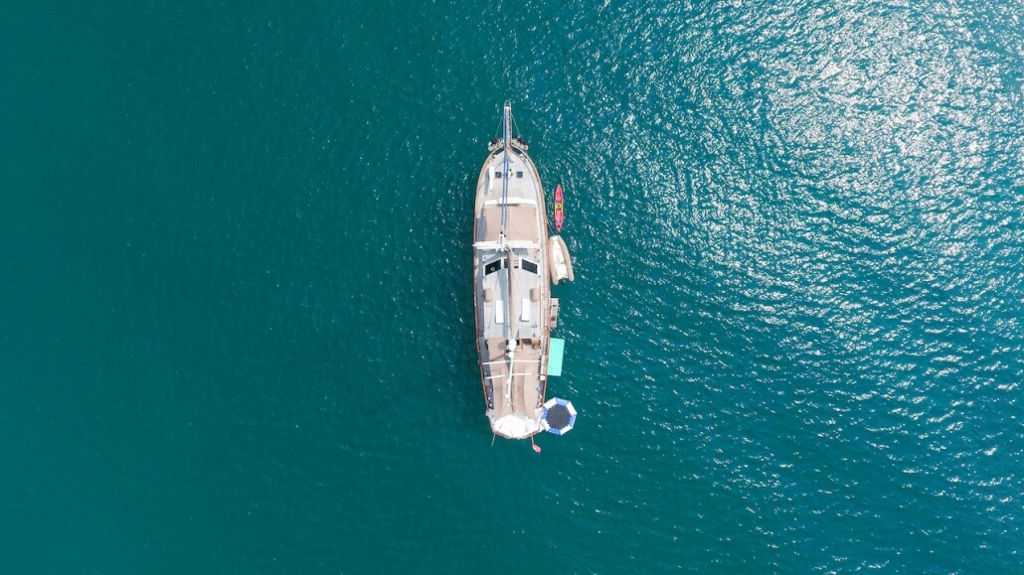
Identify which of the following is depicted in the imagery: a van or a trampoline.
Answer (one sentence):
I can see a trampoline in this picture.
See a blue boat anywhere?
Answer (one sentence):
No, the photo shows no blue boat.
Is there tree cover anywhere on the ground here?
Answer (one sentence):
No, there is no tree cover in the image.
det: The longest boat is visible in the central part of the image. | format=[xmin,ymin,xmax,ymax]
[473,99,560,451]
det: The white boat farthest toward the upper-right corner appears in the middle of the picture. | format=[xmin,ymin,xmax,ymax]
[549,235,574,284]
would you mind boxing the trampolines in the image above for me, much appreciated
[539,398,576,434]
